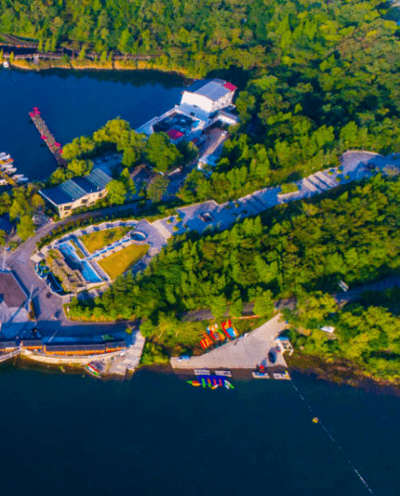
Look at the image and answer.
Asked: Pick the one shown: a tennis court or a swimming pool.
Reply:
swimming pool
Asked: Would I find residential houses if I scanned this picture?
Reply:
Yes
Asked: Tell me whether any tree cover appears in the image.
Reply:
Yes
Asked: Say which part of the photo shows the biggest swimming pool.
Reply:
left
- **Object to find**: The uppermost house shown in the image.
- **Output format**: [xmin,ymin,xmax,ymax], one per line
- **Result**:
[182,79,228,113]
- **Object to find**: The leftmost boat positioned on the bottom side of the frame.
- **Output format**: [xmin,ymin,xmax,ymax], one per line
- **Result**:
[84,366,104,379]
